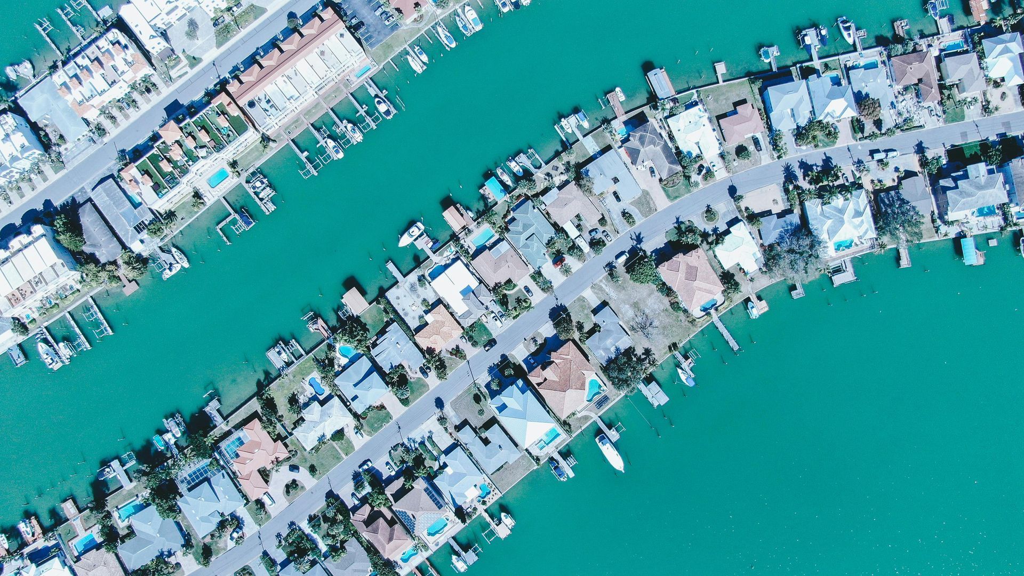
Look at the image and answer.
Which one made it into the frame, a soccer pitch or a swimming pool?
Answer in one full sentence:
It is a swimming pool that can be seen here.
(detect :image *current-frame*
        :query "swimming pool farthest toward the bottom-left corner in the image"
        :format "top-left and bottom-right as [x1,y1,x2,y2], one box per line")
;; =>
[27,544,60,563]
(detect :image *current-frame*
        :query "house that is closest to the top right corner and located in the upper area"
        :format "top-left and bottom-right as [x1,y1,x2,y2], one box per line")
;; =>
[980,32,1024,87]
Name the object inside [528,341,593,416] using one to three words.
house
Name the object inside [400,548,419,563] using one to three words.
swimming pool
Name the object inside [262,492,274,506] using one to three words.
vehicle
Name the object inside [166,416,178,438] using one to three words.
boat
